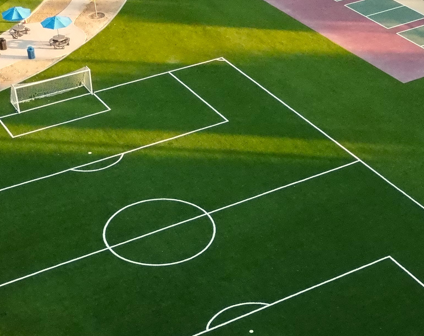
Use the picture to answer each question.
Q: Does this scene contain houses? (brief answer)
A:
No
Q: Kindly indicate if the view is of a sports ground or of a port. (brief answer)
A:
sports ground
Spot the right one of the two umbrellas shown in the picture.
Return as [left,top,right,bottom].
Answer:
[42,14,72,33]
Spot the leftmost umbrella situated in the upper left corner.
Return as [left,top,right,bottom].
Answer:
[0,6,29,24]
